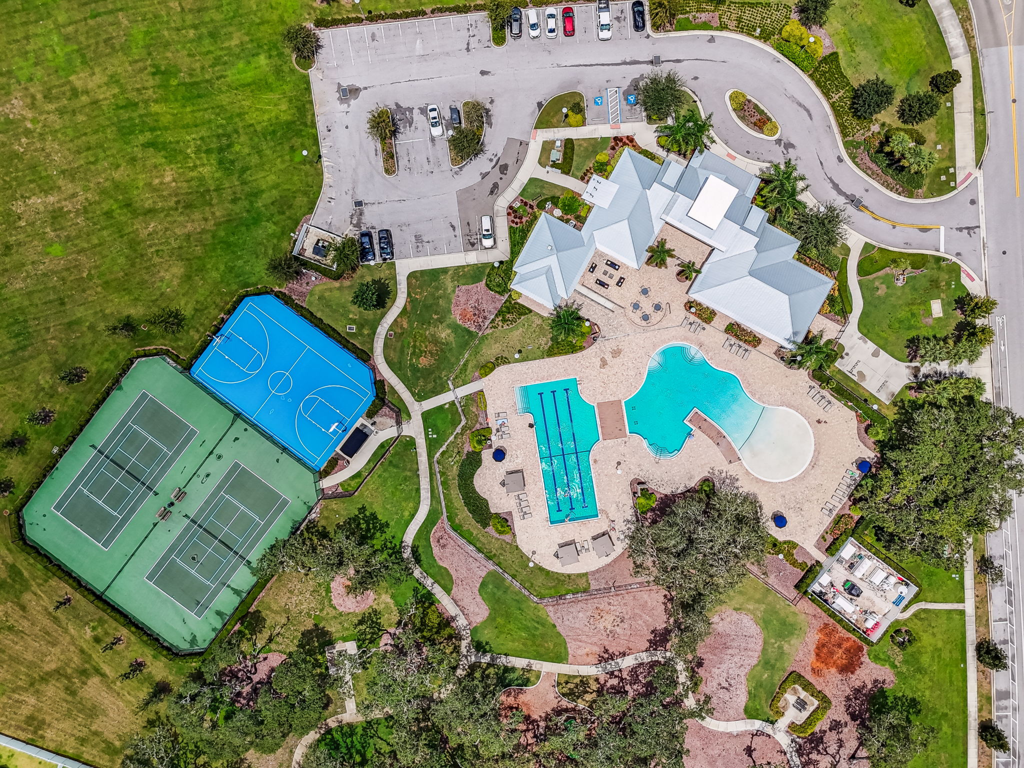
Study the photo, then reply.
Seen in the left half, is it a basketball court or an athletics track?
basketball court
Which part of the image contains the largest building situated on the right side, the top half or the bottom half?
top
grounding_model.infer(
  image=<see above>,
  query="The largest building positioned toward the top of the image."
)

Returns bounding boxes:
[511,147,834,349]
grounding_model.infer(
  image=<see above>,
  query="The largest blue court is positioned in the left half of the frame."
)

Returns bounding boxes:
[189,295,373,471]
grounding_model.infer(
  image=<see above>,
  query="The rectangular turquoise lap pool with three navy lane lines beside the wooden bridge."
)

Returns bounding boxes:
[512,376,602,527]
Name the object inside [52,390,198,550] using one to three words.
tennis court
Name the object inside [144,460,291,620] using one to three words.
tennis court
